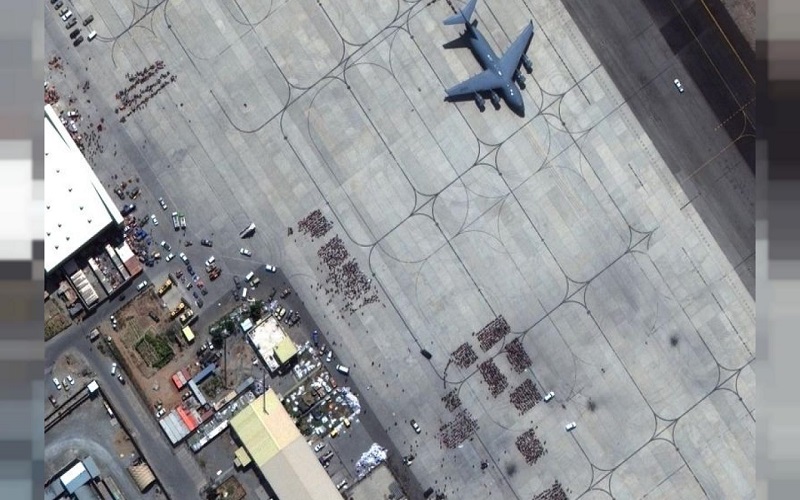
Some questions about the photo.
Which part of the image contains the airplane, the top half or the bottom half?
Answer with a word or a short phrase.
top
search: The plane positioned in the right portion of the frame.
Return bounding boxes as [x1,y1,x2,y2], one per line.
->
[442,0,533,116]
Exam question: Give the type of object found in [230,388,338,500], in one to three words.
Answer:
hangar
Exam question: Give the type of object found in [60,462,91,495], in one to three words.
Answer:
building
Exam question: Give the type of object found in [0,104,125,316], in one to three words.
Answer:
hangar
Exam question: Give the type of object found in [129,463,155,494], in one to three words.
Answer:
shed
